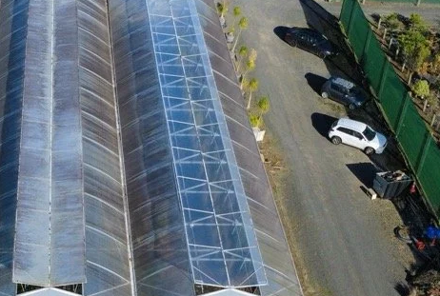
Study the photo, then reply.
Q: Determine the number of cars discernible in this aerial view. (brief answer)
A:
three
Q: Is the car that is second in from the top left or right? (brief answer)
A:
right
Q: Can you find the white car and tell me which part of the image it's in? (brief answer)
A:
right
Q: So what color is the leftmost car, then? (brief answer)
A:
black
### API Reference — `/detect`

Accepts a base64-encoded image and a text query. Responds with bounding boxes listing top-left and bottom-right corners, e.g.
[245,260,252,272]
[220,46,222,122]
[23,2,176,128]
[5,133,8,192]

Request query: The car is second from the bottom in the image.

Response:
[316,73,375,111]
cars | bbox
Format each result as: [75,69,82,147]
[325,114,392,156]
[316,73,375,111]
[288,26,345,59]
